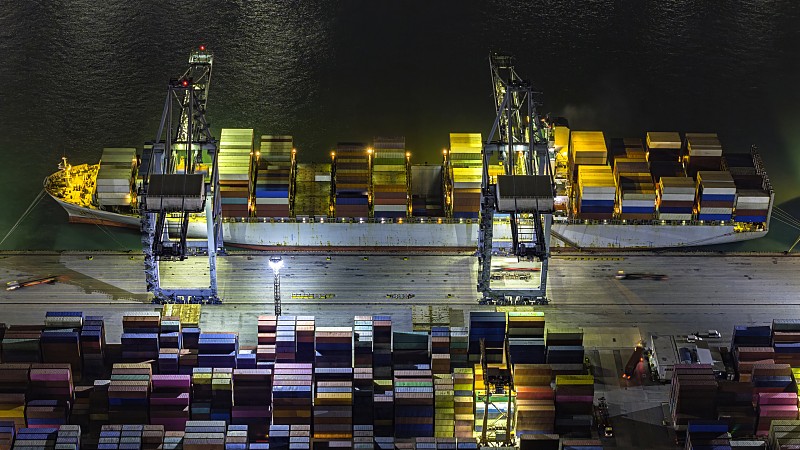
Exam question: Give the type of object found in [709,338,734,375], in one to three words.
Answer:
shed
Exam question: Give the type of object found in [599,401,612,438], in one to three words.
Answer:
vehicle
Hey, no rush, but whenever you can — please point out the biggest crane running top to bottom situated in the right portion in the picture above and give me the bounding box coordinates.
[470,43,559,304]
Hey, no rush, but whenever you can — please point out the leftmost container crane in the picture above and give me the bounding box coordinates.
[131,43,227,304]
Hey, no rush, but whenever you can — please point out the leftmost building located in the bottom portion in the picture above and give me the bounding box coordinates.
[649,334,680,378]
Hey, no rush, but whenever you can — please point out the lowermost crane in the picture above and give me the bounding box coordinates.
[480,336,519,439]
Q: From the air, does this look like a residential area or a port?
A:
port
